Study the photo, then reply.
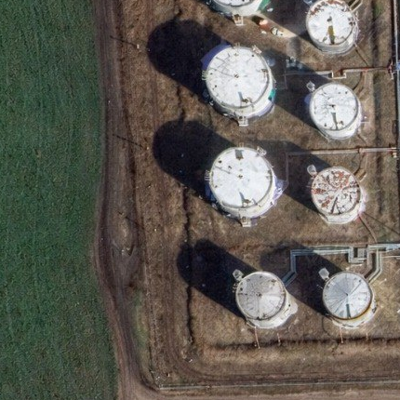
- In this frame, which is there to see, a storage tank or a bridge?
storage tank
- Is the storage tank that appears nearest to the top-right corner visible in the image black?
No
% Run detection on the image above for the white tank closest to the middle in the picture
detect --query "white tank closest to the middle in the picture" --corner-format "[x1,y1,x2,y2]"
[206,142,279,236]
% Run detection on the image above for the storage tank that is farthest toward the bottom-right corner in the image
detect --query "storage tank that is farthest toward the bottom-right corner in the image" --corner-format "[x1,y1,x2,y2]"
[319,269,378,340]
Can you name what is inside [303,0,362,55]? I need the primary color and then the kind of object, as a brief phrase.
white storage tank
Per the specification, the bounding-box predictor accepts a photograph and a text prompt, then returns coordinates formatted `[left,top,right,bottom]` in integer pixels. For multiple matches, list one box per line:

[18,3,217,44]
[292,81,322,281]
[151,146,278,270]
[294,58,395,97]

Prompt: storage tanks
[319,269,378,340]
[210,0,269,34]
[307,81,365,140]
[233,270,295,347]
[307,165,374,226]
[202,42,274,136]
[303,0,362,55]
[206,142,279,236]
